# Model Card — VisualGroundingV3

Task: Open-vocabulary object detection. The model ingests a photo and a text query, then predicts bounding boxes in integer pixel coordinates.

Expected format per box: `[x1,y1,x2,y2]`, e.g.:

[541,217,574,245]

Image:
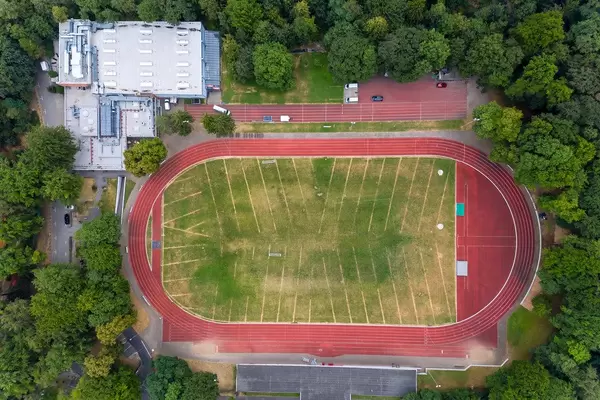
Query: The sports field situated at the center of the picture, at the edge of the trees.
[161,156,455,325]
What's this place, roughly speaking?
sports ground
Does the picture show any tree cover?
Yes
